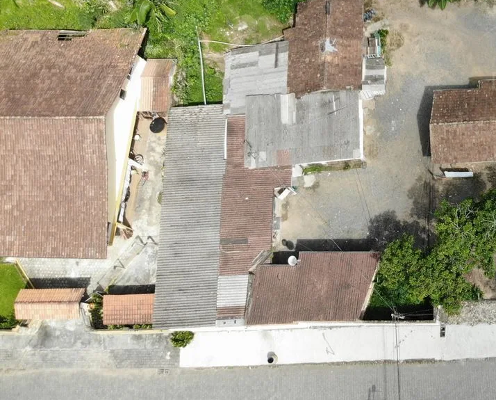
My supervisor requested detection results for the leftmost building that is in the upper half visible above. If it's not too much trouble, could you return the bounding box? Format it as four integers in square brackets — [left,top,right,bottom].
[0,28,148,259]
